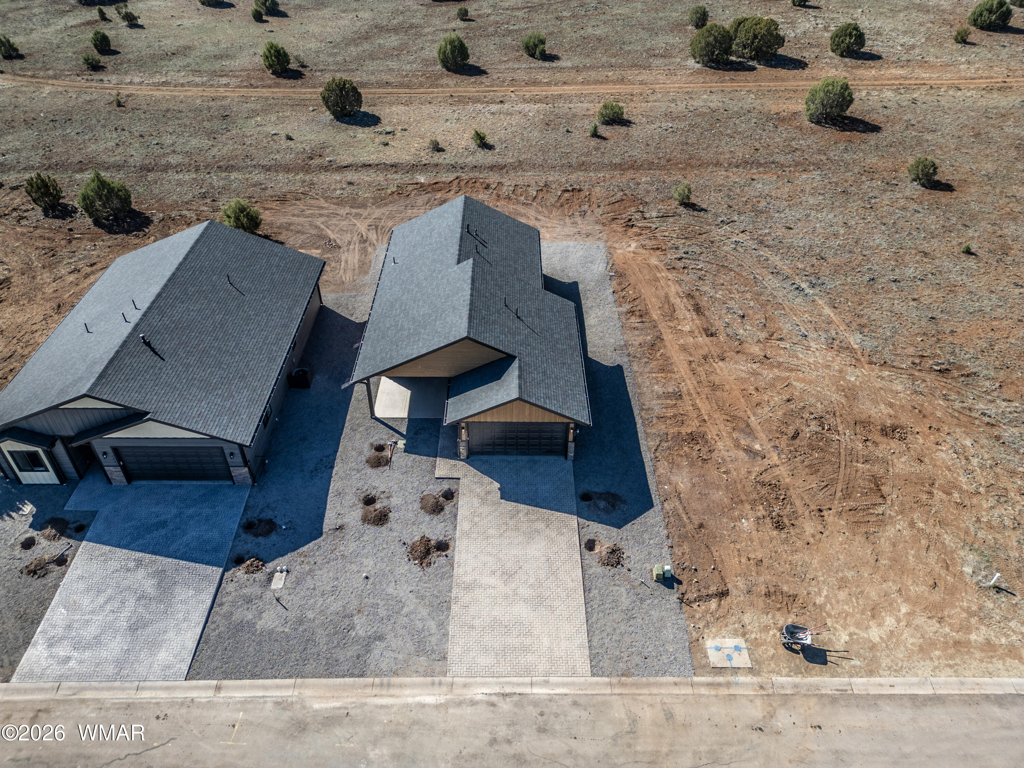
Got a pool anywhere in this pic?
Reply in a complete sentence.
No, the scene contains no pool.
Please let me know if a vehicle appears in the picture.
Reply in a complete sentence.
No, there's no vehicle here.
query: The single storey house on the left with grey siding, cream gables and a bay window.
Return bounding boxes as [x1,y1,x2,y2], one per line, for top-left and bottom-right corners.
[0,220,327,485]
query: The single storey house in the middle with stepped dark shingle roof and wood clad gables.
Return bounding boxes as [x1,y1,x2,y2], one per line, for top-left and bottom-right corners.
[348,196,595,460]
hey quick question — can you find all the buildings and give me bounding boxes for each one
[0,220,327,485]
[348,196,595,460]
